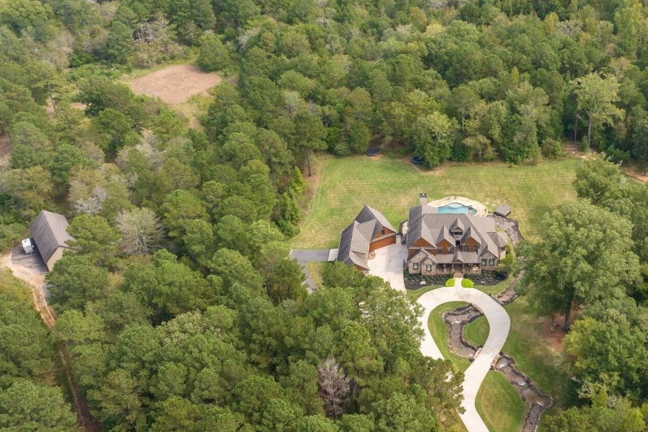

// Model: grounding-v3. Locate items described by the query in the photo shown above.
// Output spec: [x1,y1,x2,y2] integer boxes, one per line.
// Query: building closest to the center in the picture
[336,205,399,278]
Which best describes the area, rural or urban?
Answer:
rural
